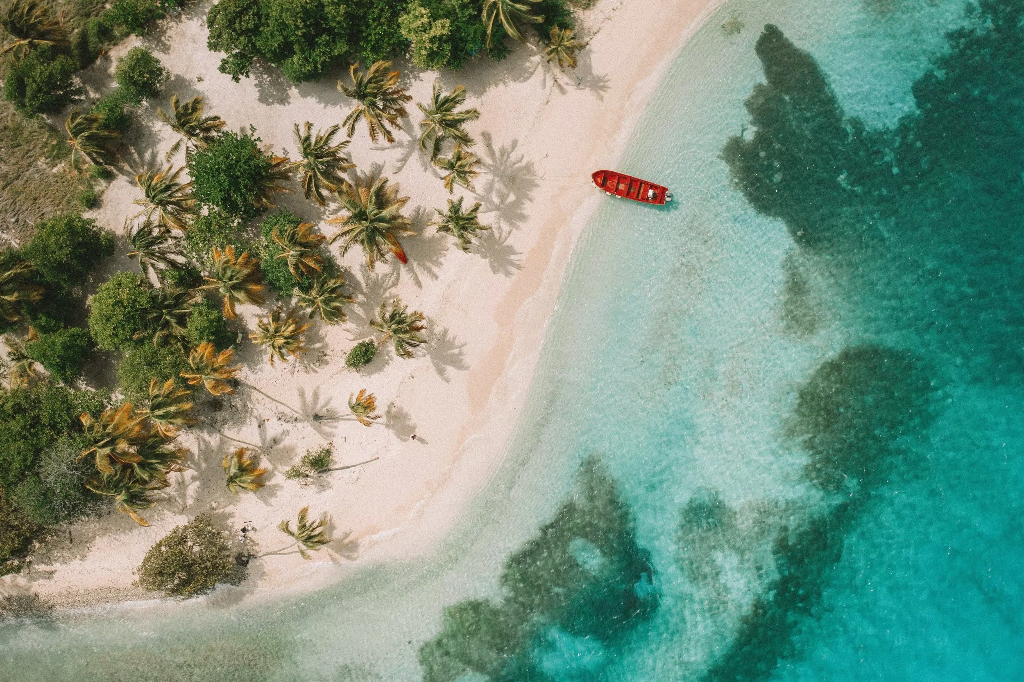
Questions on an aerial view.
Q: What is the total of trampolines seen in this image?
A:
0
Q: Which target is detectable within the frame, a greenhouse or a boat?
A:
boat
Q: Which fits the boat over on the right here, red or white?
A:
red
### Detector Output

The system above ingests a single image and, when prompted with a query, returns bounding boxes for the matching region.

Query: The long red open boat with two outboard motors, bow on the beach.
[591,171,675,203]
